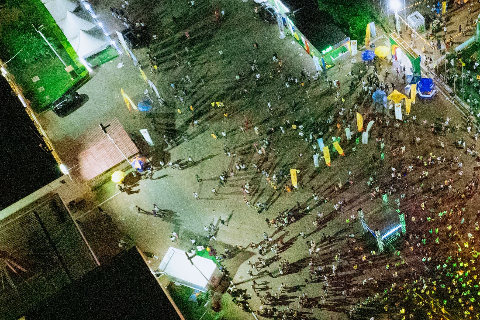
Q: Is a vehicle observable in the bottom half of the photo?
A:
No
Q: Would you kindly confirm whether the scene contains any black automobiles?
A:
Yes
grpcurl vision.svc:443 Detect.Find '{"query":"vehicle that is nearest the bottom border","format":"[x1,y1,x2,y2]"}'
[50,90,82,111]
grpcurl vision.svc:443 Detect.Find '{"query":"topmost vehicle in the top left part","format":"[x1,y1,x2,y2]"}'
[120,25,138,50]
